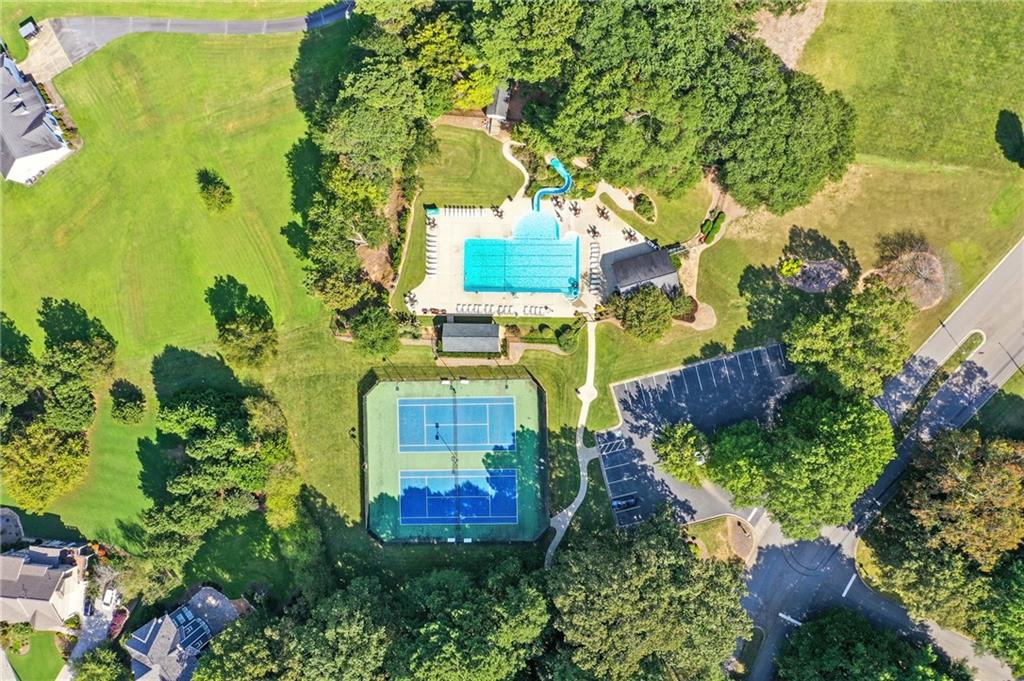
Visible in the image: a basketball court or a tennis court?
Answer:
tennis court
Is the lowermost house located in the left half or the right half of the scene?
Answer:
left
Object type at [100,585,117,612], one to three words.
car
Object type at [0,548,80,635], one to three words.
house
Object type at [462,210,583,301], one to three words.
swimming pool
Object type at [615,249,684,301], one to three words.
building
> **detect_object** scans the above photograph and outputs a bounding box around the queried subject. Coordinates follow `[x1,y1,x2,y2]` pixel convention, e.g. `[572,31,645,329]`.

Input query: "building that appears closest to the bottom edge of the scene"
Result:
[123,595,202,681]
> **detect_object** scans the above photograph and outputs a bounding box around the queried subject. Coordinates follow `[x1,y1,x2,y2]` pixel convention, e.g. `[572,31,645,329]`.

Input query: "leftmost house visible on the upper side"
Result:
[0,34,79,183]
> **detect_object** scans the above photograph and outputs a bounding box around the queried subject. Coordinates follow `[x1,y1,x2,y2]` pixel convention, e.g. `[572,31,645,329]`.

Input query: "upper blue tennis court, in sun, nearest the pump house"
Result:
[367,379,547,461]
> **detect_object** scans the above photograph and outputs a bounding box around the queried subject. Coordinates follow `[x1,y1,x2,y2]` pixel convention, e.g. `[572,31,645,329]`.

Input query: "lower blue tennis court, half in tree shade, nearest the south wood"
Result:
[368,461,548,541]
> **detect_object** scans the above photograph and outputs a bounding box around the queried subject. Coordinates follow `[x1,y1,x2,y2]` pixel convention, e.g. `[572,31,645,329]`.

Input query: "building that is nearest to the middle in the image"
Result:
[440,322,500,352]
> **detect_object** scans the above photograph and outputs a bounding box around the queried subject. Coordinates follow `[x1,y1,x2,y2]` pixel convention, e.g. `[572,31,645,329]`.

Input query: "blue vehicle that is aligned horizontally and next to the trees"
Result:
[613,496,637,510]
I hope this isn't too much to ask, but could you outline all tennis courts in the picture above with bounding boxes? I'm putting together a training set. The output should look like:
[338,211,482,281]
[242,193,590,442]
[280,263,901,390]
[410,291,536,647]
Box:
[368,461,548,541]
[367,379,547,461]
